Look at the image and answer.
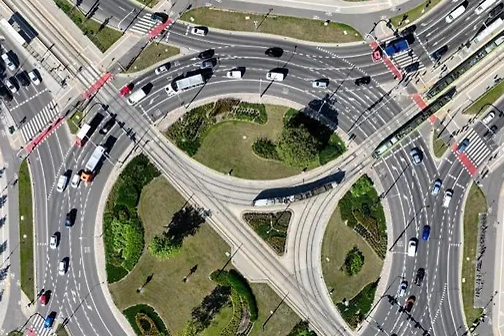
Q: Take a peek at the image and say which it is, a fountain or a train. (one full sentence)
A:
The image shows a train.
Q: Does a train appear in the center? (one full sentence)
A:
Yes, a train can be seen in the center.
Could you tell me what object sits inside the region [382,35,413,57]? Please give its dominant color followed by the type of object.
blue truck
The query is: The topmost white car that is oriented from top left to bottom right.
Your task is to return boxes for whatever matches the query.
[2,55,16,69]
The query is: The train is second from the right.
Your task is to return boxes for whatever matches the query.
[373,86,460,156]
